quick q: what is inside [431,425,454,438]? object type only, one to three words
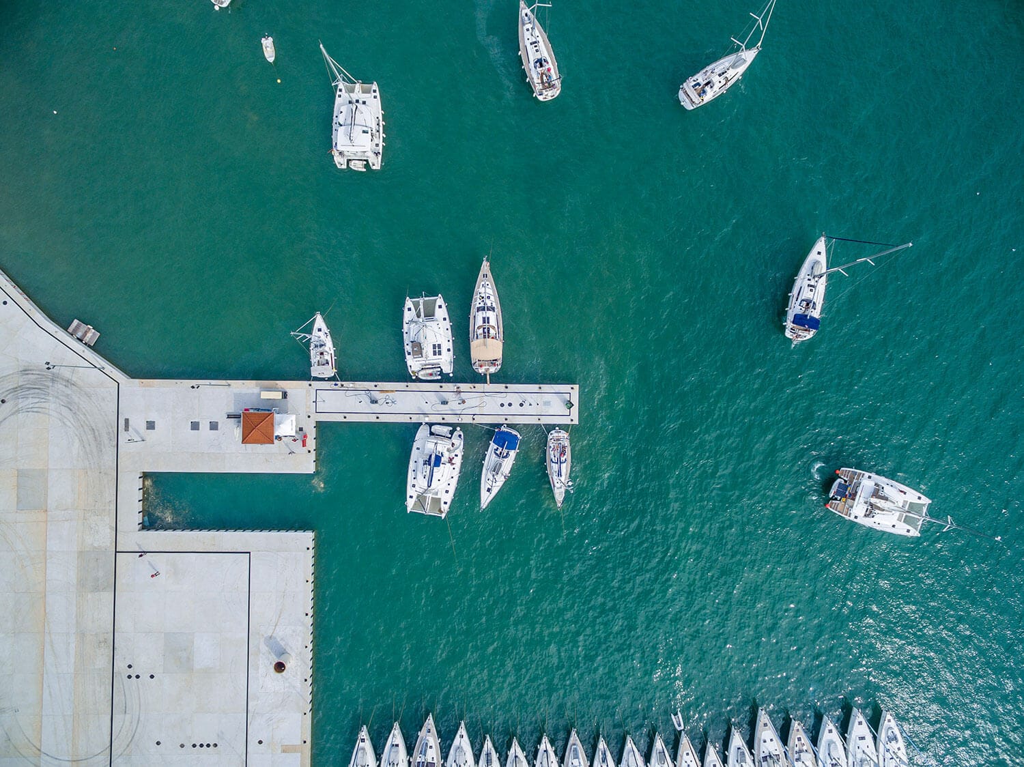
boat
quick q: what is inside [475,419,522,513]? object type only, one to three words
boat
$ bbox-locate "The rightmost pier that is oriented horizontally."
[314,381,578,424]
